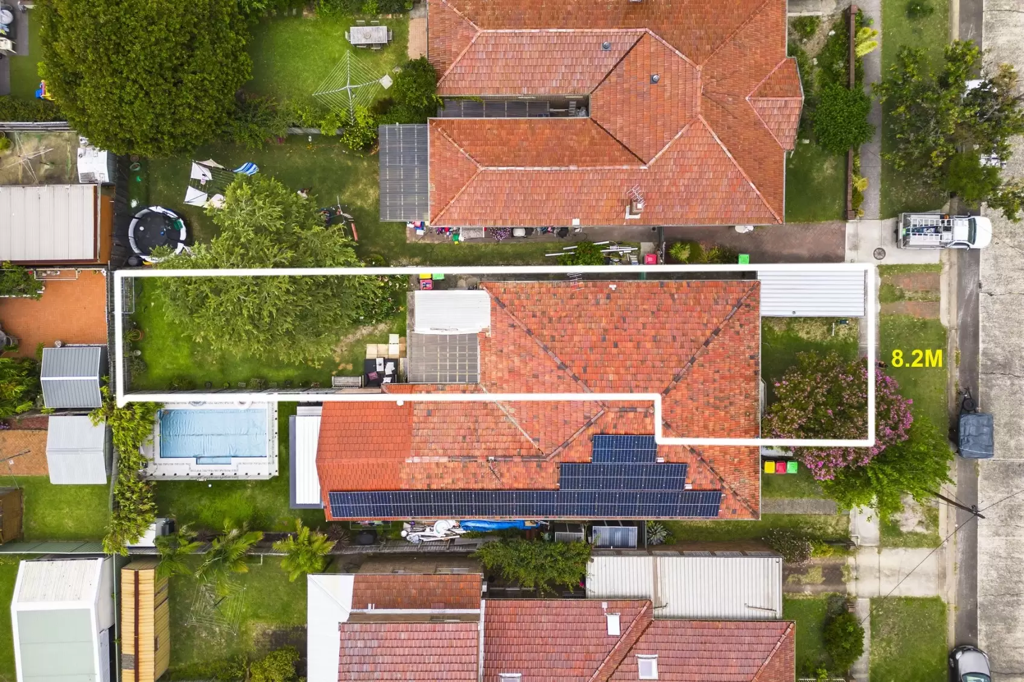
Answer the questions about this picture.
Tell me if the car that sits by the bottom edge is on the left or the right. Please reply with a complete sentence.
The car that sits by the bottom edge is on the right side of the image.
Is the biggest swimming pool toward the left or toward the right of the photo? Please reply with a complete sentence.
It is on the left.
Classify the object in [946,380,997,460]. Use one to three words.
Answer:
trailer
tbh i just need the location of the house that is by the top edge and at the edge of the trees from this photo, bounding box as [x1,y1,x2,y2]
[427,0,806,226]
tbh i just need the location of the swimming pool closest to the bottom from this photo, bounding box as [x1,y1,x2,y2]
[153,400,274,472]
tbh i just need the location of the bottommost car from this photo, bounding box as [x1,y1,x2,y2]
[940,645,993,682]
